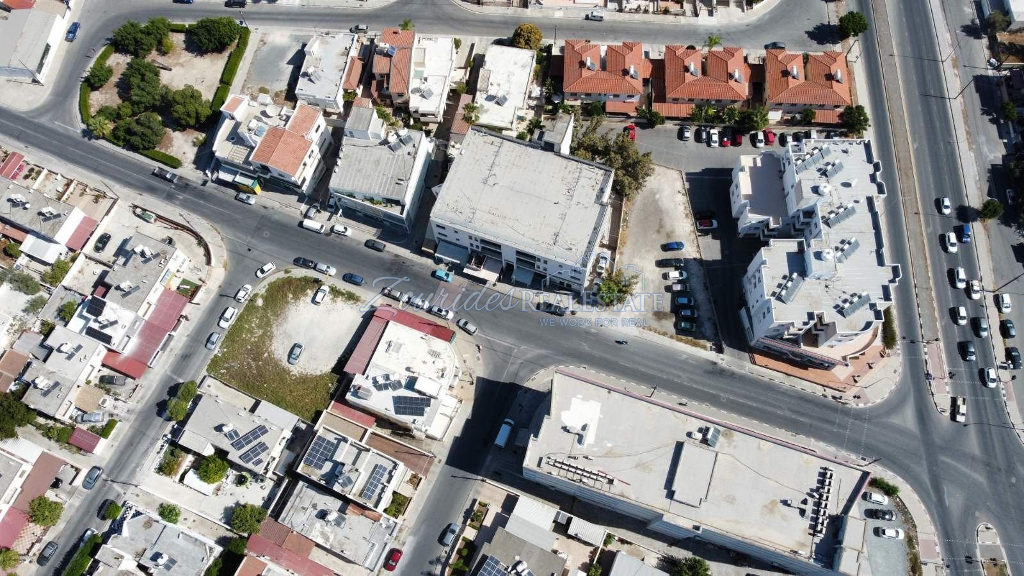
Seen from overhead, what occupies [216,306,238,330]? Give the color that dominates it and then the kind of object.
white car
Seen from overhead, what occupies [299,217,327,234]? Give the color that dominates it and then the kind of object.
white vehicle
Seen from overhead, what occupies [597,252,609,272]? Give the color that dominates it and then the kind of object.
white vehicle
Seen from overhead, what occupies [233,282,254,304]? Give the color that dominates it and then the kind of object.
white car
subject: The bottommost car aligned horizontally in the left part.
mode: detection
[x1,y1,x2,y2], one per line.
[75,411,103,424]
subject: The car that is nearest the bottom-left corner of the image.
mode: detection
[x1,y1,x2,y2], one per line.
[35,538,60,569]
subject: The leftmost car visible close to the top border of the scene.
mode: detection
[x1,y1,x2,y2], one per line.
[67,25,79,39]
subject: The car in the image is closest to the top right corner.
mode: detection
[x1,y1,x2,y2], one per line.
[1003,187,1017,206]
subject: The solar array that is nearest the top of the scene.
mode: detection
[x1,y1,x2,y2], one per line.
[86,295,107,316]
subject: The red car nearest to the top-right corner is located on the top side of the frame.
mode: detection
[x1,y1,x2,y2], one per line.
[763,126,775,148]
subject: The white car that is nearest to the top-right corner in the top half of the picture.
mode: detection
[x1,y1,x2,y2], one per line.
[939,196,953,216]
